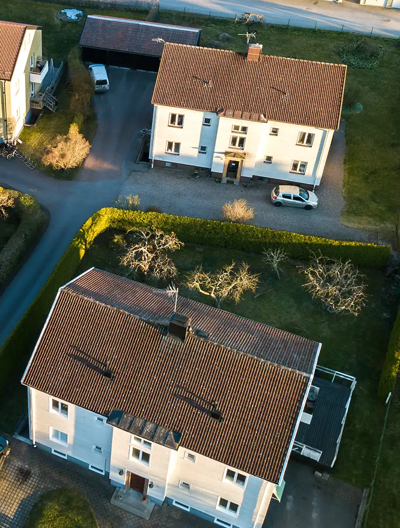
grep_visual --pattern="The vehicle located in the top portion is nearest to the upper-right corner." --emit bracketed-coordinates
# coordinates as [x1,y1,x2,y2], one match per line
[270,183,320,211]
